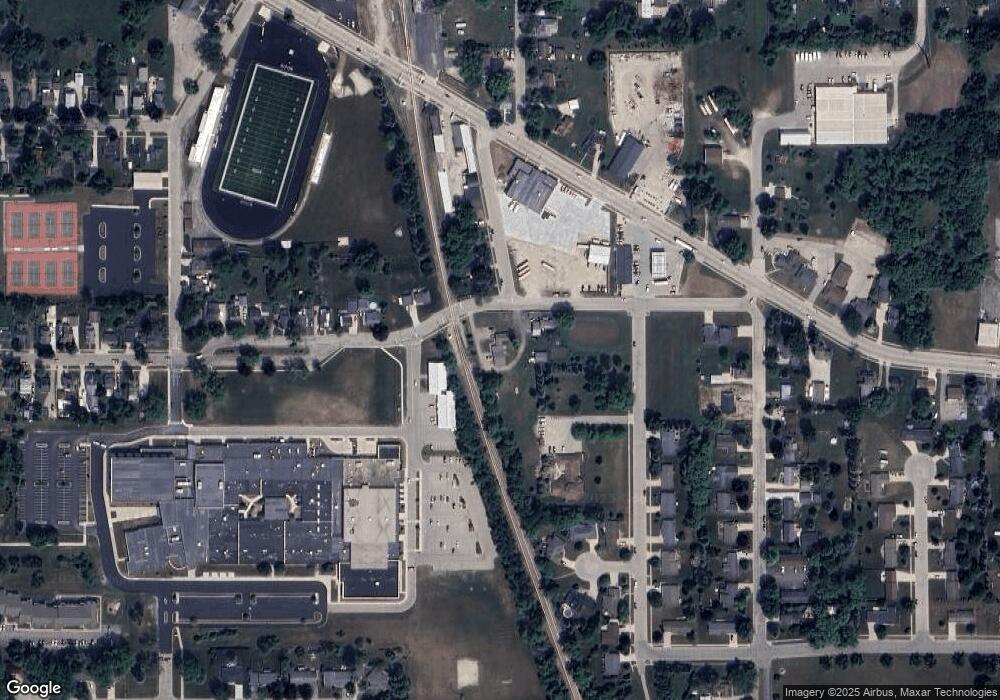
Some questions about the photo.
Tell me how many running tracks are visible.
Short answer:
1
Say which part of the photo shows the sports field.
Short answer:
top left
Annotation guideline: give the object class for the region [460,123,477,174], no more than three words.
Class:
shed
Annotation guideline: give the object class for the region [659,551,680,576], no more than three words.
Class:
house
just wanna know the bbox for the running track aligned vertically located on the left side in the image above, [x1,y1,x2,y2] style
[202,14,330,239]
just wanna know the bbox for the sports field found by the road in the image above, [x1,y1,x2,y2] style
[202,14,330,239]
